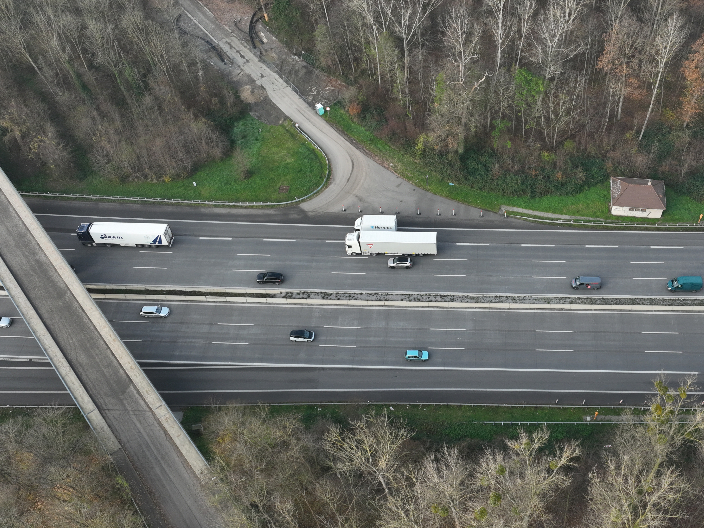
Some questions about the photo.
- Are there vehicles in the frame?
Yes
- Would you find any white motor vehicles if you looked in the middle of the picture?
Yes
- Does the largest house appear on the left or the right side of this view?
right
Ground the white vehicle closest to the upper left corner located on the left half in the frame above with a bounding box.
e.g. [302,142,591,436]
[75,221,175,247]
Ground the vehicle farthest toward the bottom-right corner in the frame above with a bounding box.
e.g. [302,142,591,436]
[666,274,704,292]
